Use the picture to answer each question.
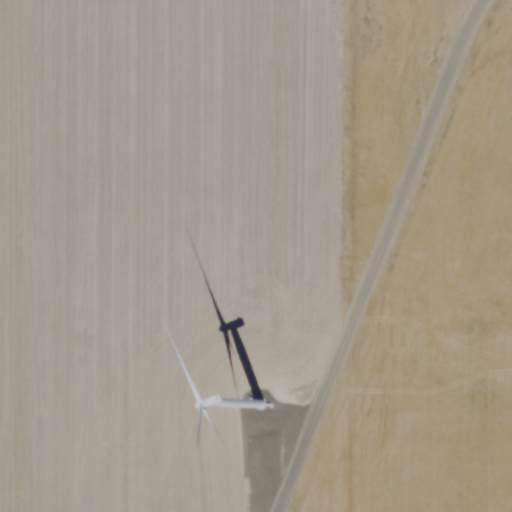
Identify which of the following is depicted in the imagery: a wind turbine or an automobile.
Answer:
wind turbine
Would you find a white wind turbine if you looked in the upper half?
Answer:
No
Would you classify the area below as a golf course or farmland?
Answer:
farmland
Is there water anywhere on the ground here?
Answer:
No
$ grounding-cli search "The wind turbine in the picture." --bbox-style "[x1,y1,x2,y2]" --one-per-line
[162,314,268,453]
